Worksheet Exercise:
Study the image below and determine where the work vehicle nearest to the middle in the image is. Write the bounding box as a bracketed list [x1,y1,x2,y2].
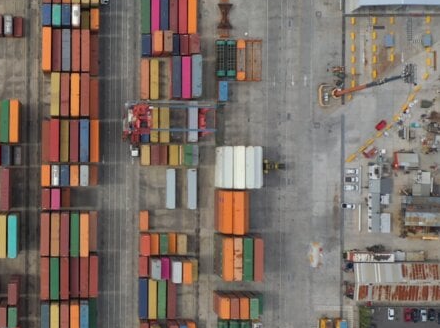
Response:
[262,158,288,172]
